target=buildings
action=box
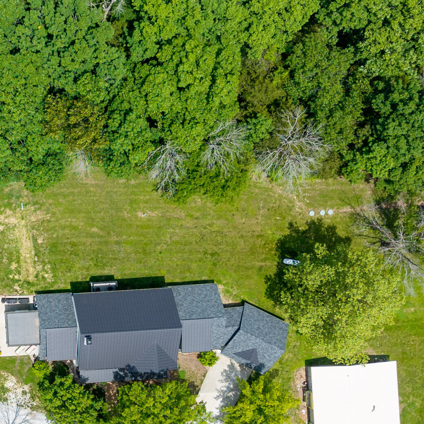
[304,362,400,424]
[36,281,288,382]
